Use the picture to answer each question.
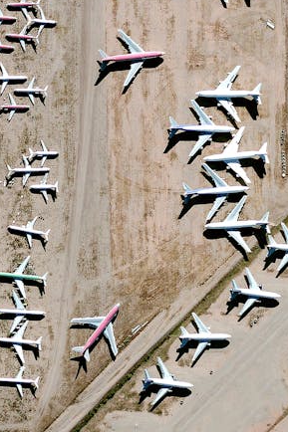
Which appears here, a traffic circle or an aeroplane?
aeroplane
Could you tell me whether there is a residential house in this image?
No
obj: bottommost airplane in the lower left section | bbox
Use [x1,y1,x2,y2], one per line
[0,366,38,397]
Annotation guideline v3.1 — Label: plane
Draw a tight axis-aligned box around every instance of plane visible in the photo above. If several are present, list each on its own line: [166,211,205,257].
[23,7,57,34]
[230,268,280,315]
[205,196,270,253]
[7,154,49,186]
[182,163,249,220]
[180,314,231,361]
[0,366,38,397]
[0,322,42,362]
[0,63,27,94]
[69,304,119,362]
[14,78,47,104]
[142,358,194,405]
[0,43,14,49]
[30,173,58,201]
[196,66,262,122]
[169,100,234,156]
[0,94,30,120]
[8,217,49,247]
[0,256,48,297]
[0,291,45,332]
[267,223,288,270]
[30,141,58,167]
[0,11,16,23]
[7,0,41,17]
[99,30,164,85]
[204,127,270,183]
[5,24,38,50]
